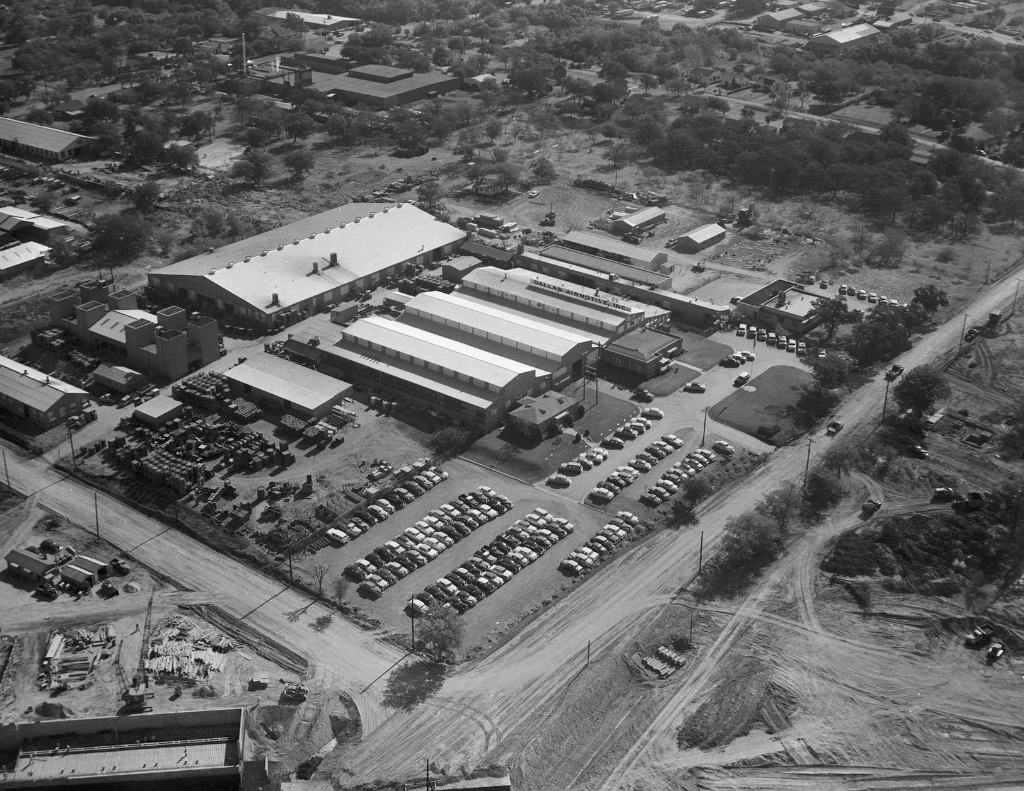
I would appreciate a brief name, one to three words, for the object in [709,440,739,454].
car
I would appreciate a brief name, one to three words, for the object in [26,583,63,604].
truck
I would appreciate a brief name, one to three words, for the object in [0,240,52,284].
shed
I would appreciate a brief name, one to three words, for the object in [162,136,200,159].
house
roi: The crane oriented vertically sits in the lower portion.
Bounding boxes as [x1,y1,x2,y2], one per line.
[120,581,164,711]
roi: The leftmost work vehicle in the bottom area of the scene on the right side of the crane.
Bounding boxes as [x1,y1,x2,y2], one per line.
[278,681,306,705]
